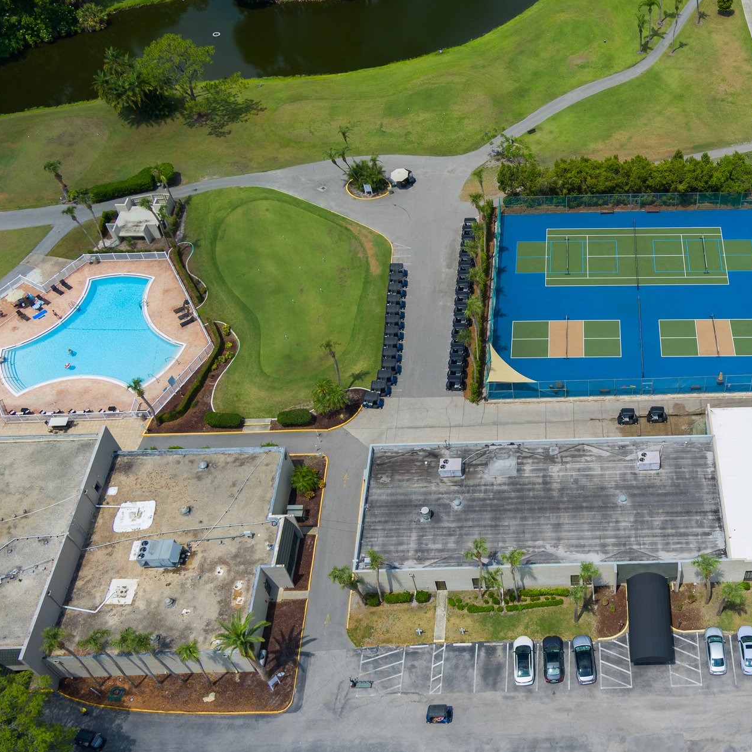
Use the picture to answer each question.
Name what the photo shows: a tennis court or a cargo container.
tennis court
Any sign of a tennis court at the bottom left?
No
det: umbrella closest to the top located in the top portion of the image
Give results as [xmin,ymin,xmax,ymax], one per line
[389,166,409,179]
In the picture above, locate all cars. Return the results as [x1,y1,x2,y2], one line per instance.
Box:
[703,628,727,676]
[511,636,535,686]
[738,627,752,676]
[572,635,597,686]
[541,636,565,684]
